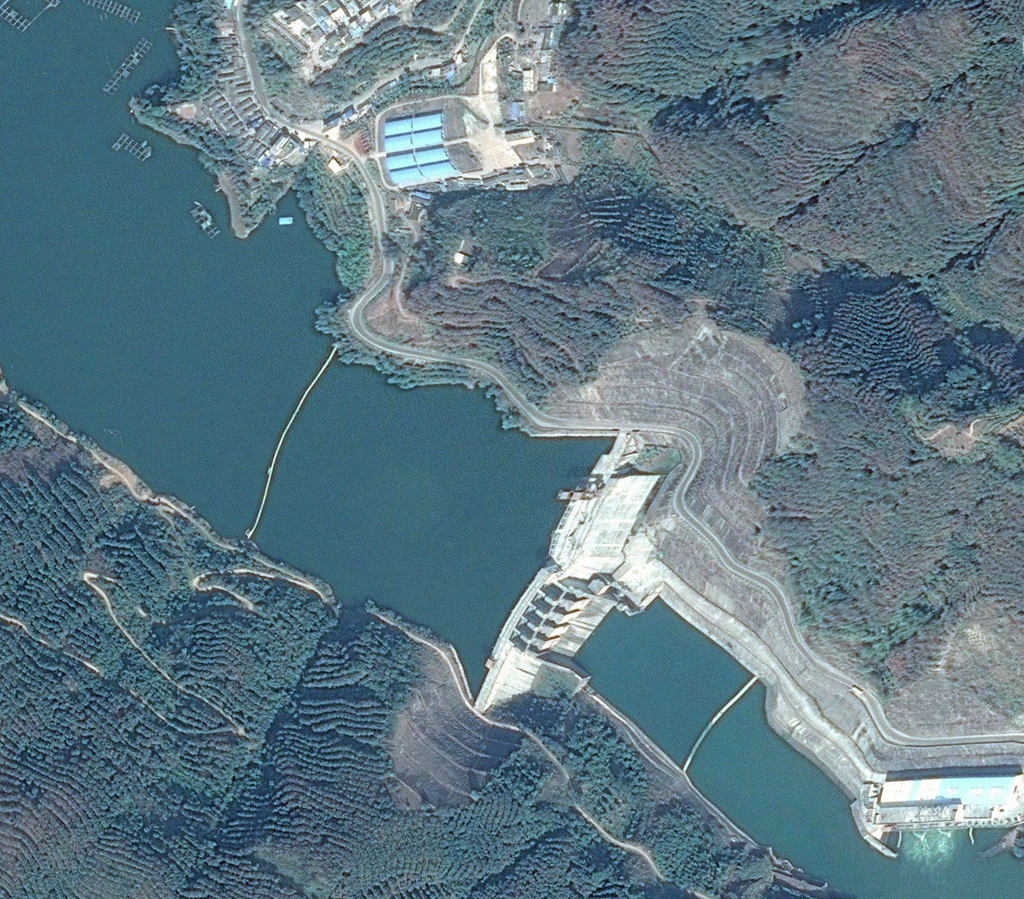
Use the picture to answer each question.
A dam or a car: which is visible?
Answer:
dam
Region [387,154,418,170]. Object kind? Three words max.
building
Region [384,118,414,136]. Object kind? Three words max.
building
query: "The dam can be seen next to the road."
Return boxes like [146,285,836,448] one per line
[475,433,662,712]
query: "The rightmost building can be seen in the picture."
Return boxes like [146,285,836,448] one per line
[873,775,1024,831]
